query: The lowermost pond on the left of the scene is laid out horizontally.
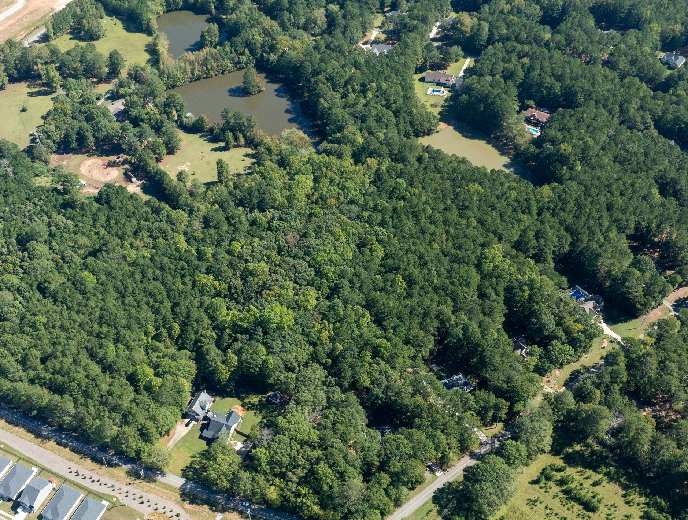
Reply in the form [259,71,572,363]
[167,69,321,146]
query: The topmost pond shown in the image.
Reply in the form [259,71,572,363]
[156,10,229,59]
